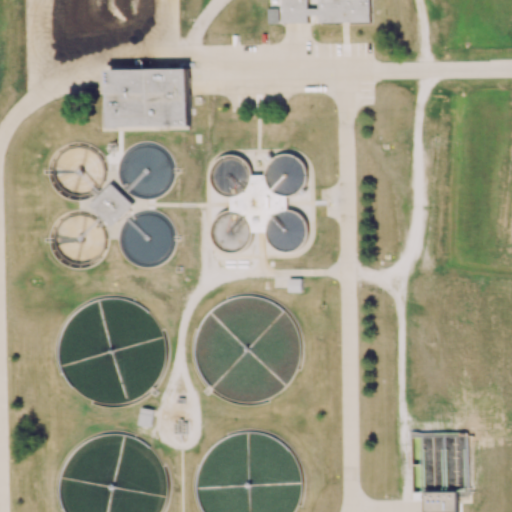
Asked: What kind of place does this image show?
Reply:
industrial area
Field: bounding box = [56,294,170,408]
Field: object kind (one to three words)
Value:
storage tank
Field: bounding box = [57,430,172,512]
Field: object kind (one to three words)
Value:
storage tank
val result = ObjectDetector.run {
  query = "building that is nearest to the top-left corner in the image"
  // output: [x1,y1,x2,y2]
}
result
[102,68,190,129]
